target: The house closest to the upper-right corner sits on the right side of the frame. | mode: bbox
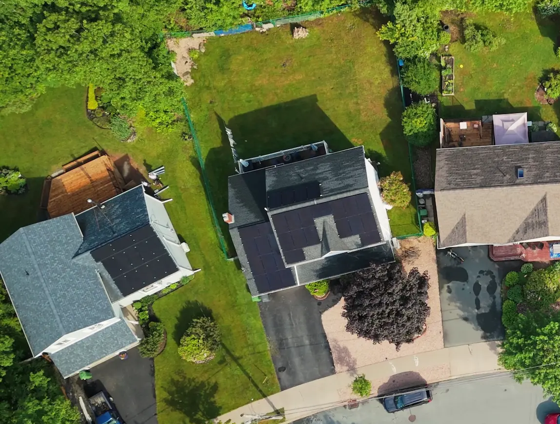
[434,140,560,252]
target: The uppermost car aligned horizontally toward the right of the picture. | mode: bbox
[383,387,433,412]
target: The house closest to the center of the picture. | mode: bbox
[220,145,400,297]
